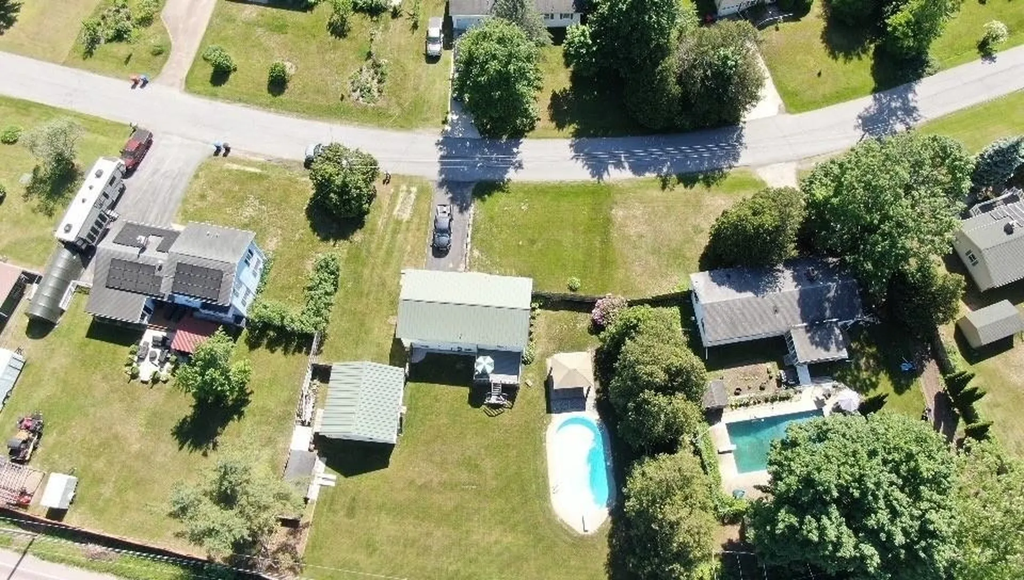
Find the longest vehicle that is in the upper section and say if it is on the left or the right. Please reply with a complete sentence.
The longest vehicle that is in the upper section sits on the left side.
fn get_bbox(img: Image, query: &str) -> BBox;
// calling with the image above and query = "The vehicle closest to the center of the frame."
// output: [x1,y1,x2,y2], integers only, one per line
[432,208,451,252]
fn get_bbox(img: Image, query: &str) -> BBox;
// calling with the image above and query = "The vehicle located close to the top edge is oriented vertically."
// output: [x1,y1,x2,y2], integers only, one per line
[426,20,442,54]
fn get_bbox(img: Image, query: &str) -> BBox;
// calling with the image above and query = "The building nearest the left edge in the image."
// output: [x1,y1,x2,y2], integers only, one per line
[0,263,32,313]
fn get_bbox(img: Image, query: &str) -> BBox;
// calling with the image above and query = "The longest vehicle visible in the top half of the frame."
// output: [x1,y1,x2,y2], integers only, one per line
[57,160,125,248]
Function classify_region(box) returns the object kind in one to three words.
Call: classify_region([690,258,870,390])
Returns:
house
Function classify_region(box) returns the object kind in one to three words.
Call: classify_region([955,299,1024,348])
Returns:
shed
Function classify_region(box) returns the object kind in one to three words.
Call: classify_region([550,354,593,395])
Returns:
gazebo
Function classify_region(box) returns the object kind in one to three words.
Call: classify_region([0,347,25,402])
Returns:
trailer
